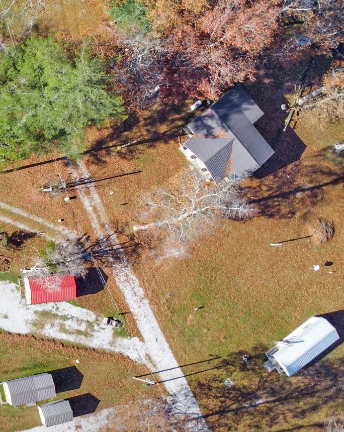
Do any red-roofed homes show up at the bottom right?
No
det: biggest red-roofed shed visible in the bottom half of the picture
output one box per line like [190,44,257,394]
[24,275,76,304]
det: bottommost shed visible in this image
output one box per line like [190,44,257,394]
[37,398,73,428]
